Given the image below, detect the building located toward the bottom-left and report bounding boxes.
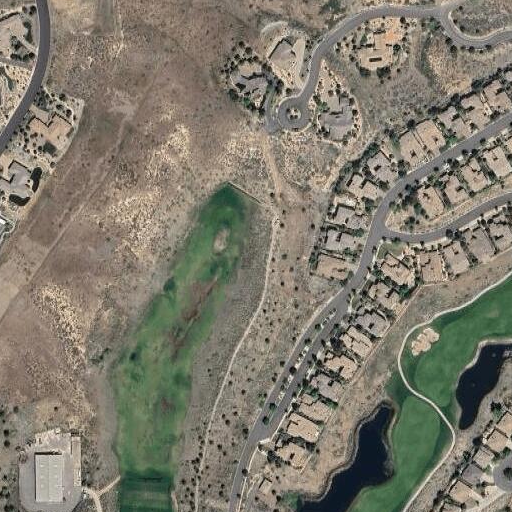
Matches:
[36,455,63,502]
